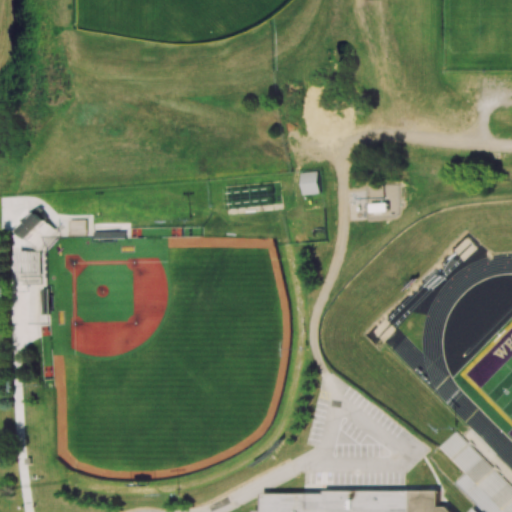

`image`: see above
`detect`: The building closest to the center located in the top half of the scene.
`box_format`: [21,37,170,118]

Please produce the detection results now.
[300,171,323,196]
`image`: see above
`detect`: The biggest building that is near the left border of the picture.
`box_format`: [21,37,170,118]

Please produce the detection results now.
[14,206,60,245]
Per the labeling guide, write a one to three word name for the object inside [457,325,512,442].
sports field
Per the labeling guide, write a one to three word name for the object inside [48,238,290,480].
baseball field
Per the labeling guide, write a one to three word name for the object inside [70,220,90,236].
shed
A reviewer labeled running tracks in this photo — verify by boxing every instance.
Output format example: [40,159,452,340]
[395,253,512,472]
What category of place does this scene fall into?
sports ground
